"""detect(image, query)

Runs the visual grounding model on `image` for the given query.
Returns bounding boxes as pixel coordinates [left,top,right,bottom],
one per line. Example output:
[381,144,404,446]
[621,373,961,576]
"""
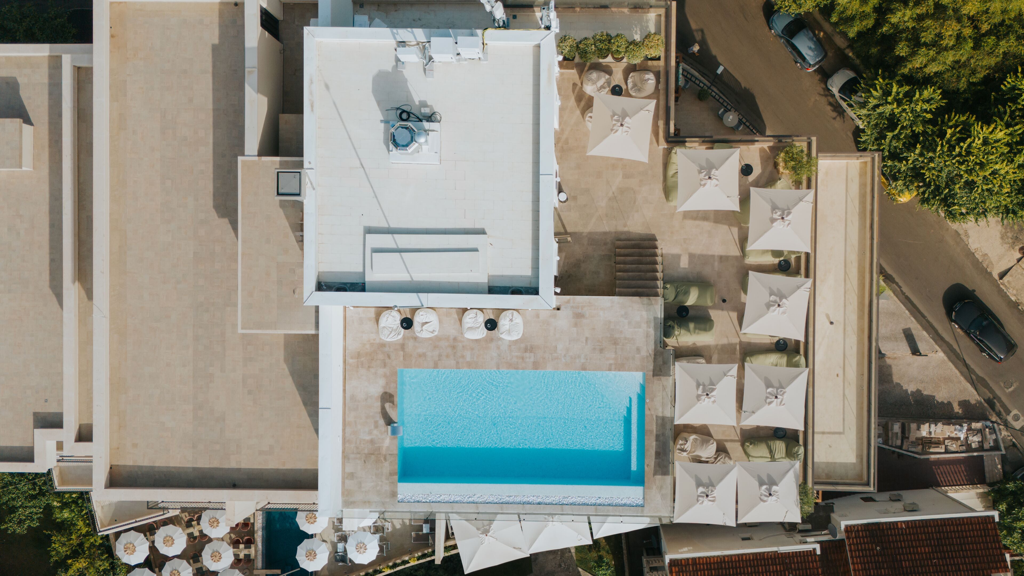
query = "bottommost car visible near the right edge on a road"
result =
[941,291,1024,369]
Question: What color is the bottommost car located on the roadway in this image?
black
